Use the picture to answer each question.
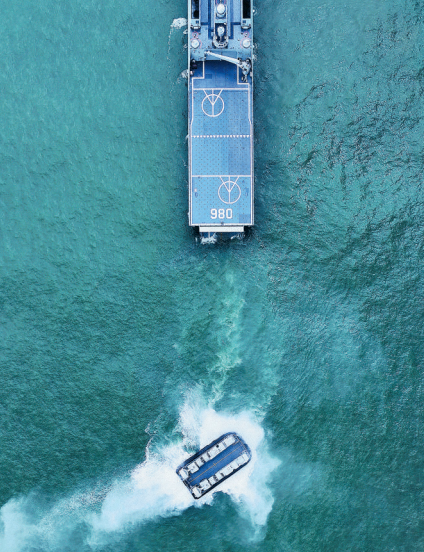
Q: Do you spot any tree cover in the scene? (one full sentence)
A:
No, tree cover can't be seen anywhere here.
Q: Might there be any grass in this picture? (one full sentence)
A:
No, there is no grass in the image.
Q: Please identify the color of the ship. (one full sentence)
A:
In this view, the ship is blue.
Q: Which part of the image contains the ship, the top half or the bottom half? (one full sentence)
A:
The ship is in the top half of the image.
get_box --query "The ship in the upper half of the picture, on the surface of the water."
[189,0,254,237]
